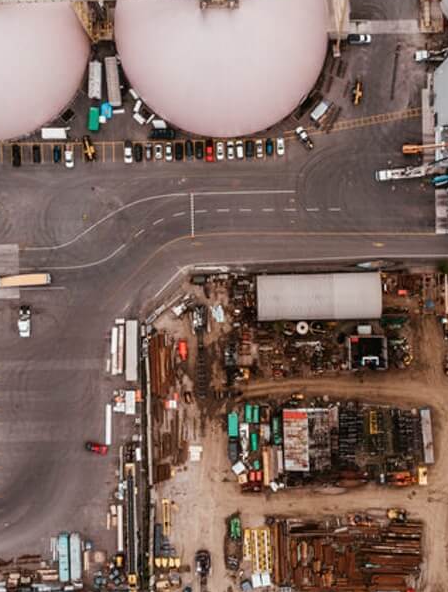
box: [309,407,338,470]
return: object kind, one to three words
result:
shed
